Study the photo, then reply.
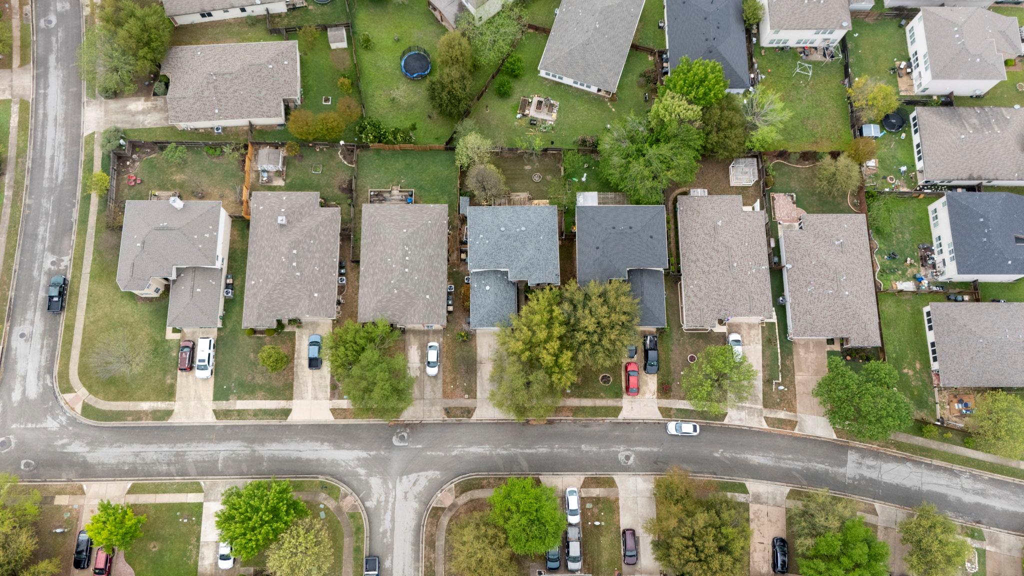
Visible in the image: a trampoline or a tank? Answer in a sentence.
This aerial view contains a trampoline.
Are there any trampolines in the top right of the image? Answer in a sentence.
Yes, you'll find a trampoline in the top right of the image.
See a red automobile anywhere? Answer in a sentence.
Yes, there's a red automobile here.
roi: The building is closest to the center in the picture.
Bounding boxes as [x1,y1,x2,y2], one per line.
[467,205,561,330]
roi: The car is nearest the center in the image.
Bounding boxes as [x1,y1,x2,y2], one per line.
[424,342,441,377]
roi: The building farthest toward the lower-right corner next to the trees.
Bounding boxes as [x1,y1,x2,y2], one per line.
[920,302,1024,388]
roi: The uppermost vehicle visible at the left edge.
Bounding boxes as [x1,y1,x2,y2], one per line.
[47,275,69,315]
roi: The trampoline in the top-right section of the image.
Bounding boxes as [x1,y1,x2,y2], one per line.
[886,106,914,132]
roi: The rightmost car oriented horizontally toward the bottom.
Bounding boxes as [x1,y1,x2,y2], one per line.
[665,420,701,436]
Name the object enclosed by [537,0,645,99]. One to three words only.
house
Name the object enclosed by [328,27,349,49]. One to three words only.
shed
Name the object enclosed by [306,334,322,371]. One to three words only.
vehicle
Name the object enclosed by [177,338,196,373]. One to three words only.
car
